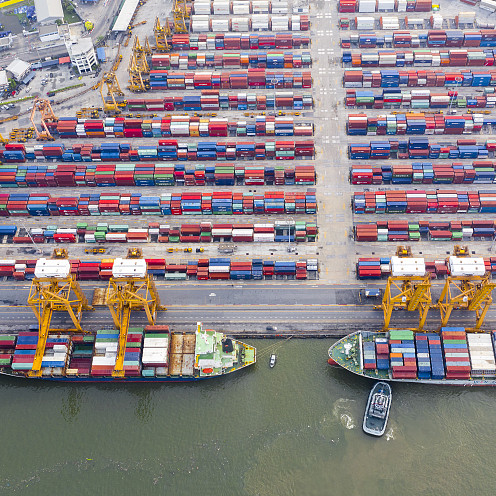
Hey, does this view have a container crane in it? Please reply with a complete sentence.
Yes, looking at the shot, I can spot a container crane.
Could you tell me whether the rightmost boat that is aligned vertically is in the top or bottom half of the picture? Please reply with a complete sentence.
The rightmost boat that is aligned vertically sits in the bottom half of the picture.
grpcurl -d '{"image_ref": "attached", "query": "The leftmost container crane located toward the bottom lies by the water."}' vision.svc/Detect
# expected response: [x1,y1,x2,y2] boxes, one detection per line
[26,247,103,379]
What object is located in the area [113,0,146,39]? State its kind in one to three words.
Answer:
building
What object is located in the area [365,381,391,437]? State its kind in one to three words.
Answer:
boat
